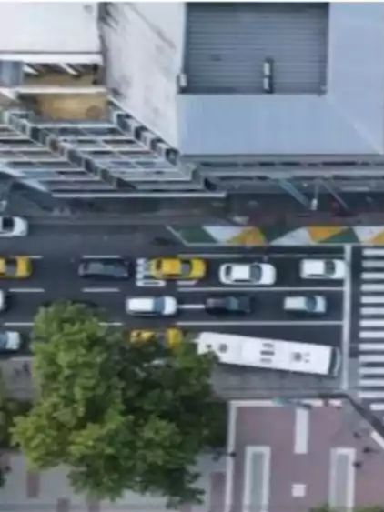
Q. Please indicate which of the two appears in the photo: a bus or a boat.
bus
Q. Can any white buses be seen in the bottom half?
Yes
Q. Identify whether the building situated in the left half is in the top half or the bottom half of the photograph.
top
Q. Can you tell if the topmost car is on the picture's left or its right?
left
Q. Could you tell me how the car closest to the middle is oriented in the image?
from side to side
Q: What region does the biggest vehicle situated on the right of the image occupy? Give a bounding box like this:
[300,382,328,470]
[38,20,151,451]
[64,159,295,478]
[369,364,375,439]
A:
[197,333,342,380]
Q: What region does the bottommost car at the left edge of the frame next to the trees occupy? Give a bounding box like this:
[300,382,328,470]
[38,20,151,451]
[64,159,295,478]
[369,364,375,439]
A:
[0,331,23,353]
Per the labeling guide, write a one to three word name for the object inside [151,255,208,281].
car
